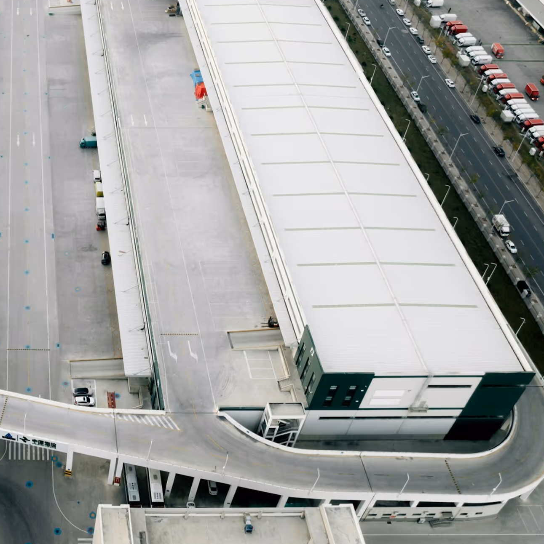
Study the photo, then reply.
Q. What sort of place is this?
industrial area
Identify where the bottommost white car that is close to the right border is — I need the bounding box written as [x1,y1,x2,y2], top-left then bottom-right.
[504,240,518,253]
